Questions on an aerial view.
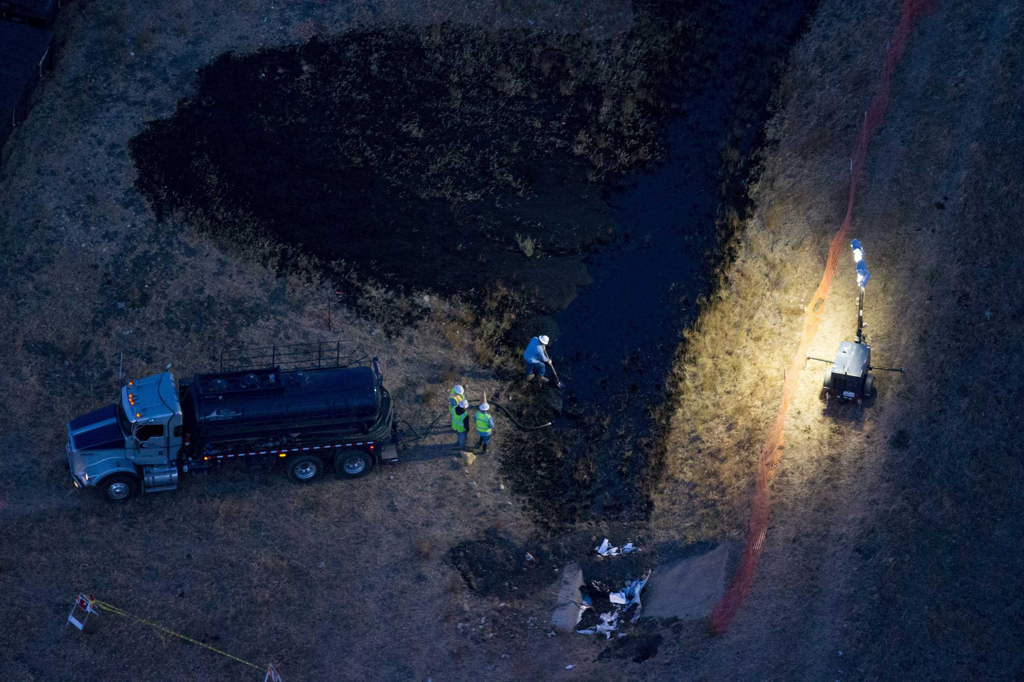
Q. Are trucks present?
Yes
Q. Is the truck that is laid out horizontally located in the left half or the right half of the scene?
left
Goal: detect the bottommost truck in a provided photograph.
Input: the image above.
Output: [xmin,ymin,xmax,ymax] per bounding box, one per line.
[61,340,397,504]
